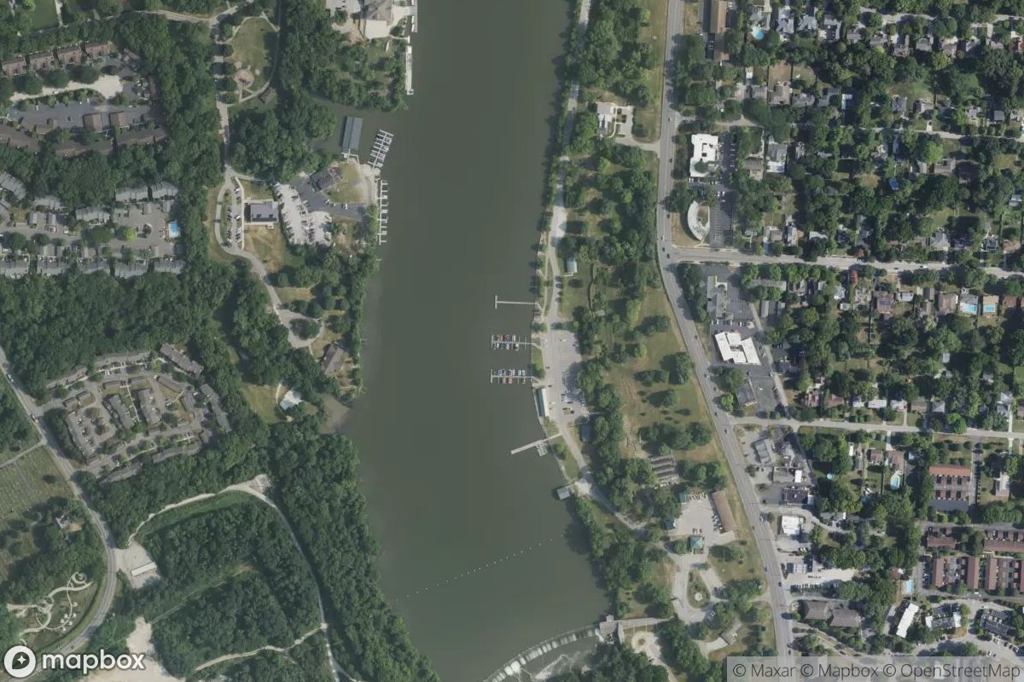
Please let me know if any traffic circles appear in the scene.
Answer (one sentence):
Yes, the photo shows a traffic circle.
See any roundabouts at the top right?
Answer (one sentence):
No, looking at the top right, there is no roundabout.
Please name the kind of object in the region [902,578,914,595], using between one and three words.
swimming pool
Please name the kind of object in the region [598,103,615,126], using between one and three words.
house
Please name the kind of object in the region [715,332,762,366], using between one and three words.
building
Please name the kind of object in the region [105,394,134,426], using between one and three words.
building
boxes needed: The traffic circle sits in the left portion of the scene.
[278,309,325,348]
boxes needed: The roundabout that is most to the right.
[673,556,724,625]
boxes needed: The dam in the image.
[481,623,600,682]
